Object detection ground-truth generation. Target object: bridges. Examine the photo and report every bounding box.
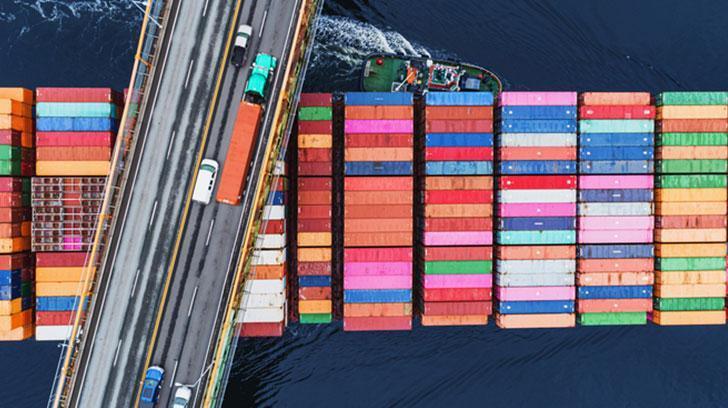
[47,0,325,408]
